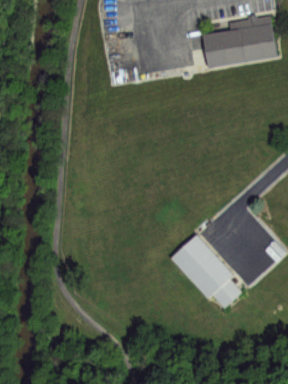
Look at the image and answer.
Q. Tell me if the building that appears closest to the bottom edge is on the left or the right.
right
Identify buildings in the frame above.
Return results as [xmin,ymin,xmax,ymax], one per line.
[203,12,278,68]
[172,234,243,306]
